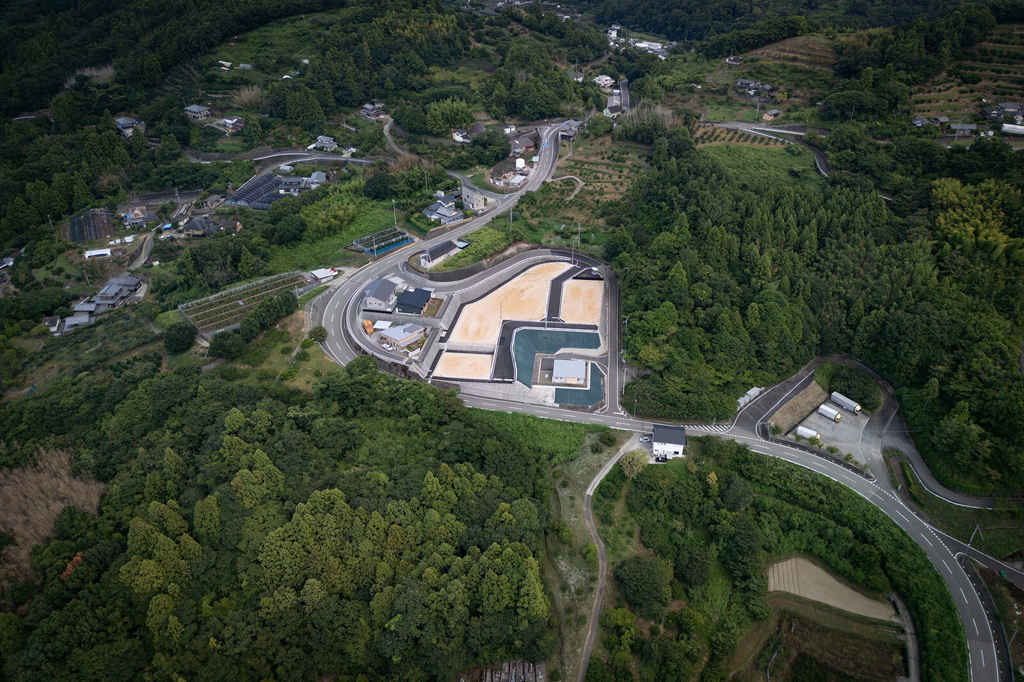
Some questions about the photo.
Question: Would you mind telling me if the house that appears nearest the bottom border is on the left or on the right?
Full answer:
The house that appears nearest the bottom border is on the right side of the image.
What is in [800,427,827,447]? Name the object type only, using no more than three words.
vehicle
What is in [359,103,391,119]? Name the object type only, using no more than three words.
house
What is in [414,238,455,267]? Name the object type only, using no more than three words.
building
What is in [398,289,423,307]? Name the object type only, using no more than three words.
solar array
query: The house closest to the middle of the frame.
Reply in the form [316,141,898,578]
[551,358,586,384]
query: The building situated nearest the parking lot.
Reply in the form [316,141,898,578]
[653,421,687,461]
